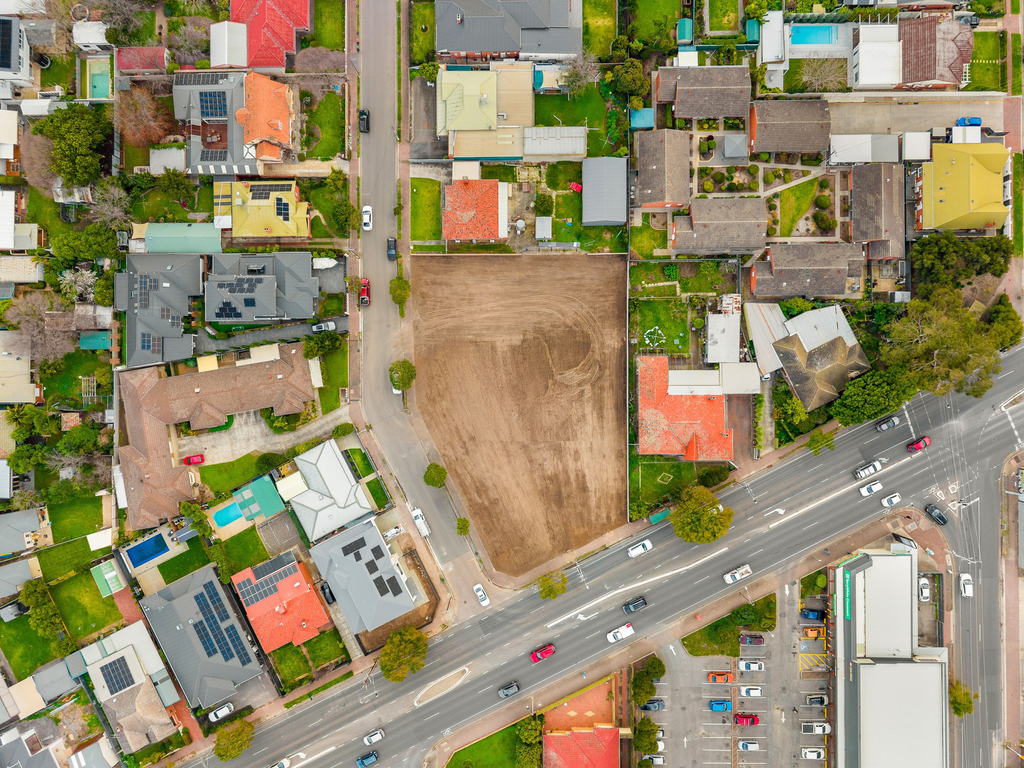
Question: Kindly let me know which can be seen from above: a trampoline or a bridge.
trampoline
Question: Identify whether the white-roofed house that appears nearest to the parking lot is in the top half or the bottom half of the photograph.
bottom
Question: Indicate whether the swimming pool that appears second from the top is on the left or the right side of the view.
left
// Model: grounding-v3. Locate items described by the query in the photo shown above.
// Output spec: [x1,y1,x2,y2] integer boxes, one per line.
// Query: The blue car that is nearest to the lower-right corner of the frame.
[801,608,826,621]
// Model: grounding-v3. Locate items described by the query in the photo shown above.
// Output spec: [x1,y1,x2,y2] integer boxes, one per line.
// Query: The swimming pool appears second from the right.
[210,502,242,530]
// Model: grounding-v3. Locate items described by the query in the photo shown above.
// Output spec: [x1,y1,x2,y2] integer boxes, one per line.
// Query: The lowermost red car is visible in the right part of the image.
[734,713,759,726]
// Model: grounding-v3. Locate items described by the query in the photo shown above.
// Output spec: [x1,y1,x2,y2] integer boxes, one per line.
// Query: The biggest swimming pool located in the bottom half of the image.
[125,532,170,570]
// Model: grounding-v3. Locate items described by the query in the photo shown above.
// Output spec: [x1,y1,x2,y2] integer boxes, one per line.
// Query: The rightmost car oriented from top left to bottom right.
[925,503,948,527]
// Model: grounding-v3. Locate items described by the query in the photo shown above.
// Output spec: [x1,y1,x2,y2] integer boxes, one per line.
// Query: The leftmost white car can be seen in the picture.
[209,703,234,721]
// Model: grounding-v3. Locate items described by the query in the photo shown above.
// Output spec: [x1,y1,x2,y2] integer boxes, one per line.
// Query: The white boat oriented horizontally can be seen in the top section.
[313,257,338,269]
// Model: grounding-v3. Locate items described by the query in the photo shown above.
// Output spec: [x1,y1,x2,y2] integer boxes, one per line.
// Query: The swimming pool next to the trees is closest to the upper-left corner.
[86,59,109,99]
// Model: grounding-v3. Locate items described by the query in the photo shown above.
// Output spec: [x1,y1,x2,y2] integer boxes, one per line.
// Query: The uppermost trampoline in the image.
[68,2,90,21]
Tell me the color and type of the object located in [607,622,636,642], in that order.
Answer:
white vehicle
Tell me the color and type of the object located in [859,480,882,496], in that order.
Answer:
white car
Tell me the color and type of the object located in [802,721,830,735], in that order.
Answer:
white vehicle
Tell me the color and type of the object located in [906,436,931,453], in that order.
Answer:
red car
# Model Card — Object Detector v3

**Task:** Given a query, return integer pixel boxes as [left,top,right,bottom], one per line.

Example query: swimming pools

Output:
[791,24,839,45]
[86,59,109,99]
[125,532,170,570]
[210,502,242,530]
